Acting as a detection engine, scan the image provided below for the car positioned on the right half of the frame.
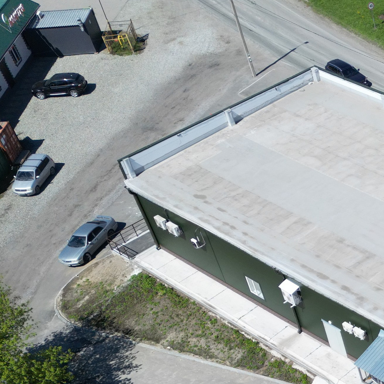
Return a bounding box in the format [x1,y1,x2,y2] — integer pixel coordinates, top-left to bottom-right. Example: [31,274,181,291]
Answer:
[326,53,383,87]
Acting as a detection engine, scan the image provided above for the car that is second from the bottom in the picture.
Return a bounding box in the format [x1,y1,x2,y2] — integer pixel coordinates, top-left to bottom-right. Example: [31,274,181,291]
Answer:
[6,151,55,194]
